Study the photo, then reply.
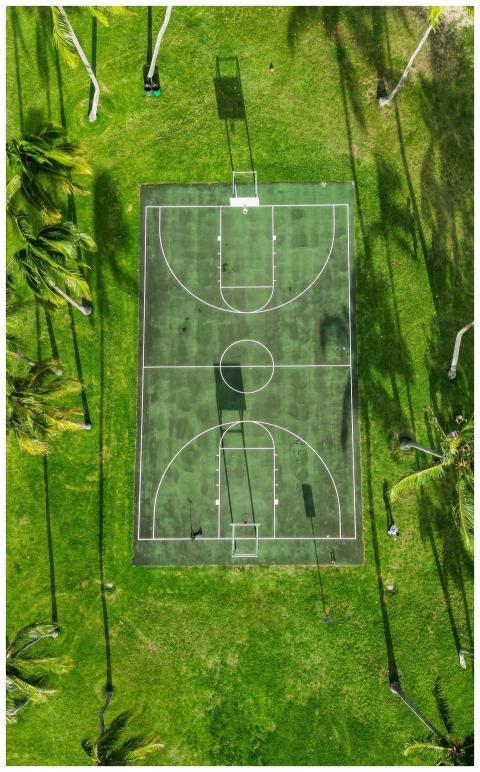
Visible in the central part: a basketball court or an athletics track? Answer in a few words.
basketball court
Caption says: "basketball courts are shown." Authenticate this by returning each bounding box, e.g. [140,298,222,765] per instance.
[133,180,364,567]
